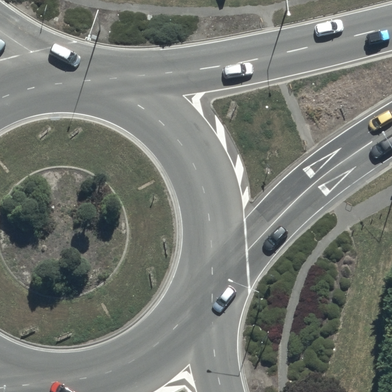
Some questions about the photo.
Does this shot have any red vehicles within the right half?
No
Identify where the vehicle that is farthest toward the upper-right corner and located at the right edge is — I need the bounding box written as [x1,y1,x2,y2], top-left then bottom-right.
[366,30,390,44]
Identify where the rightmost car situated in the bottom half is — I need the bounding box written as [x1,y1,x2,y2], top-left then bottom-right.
[262,226,290,254]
